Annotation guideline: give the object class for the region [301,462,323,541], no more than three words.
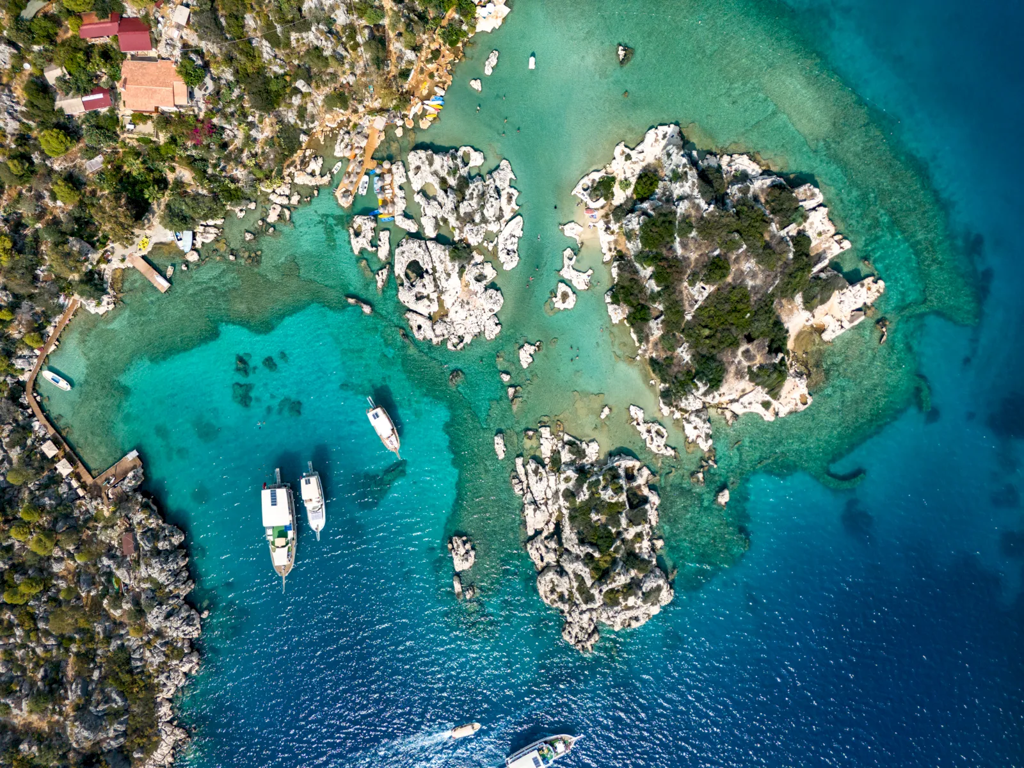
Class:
boat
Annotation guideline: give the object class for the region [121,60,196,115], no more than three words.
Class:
house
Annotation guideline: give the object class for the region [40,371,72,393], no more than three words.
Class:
boat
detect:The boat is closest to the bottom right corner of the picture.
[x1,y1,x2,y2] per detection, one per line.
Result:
[506,734,584,768]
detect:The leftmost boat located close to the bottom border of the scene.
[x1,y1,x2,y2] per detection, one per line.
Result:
[450,722,482,740]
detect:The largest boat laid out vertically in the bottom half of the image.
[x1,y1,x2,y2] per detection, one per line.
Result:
[261,469,296,593]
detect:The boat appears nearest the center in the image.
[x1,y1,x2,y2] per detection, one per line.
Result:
[366,397,401,459]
